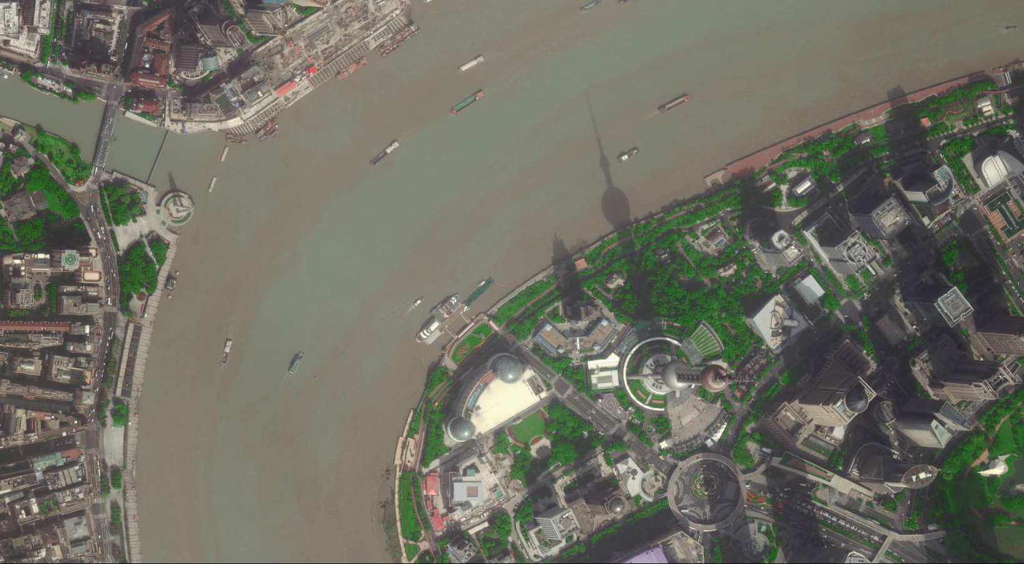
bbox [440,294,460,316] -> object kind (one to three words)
ship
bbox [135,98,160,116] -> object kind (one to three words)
house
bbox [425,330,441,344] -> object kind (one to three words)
ship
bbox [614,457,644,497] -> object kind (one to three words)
building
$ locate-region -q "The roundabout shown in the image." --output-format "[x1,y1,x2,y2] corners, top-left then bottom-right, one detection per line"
[675,460,738,524]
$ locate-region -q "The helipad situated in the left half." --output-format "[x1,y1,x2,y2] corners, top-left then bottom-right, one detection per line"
[62,250,79,268]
